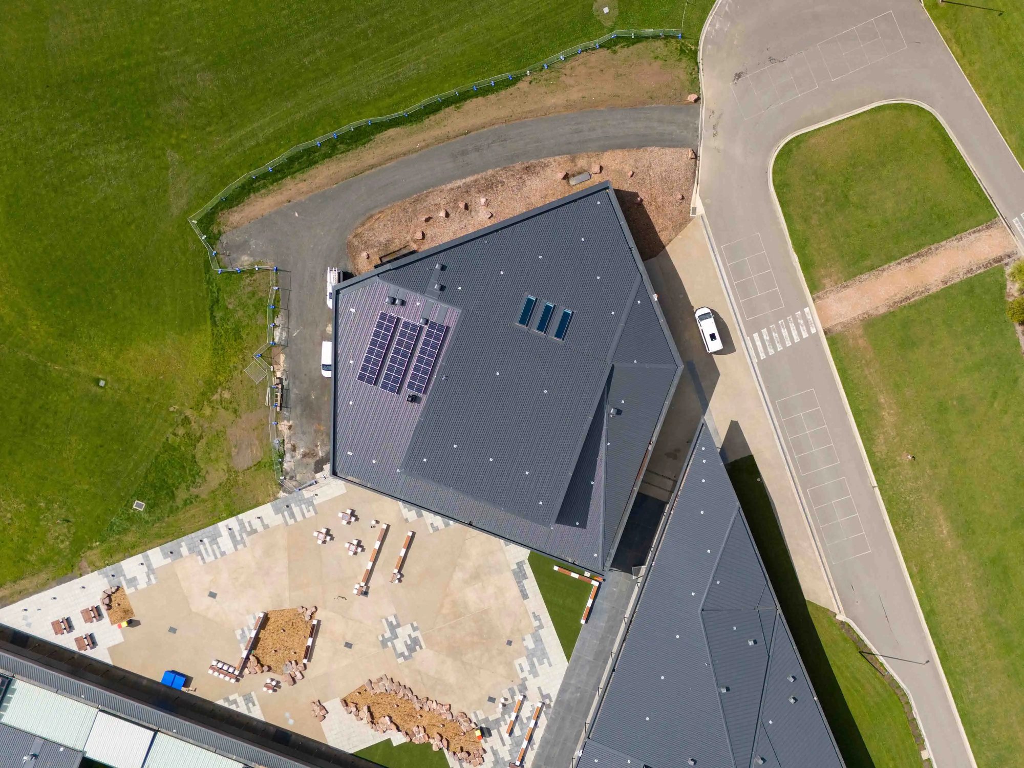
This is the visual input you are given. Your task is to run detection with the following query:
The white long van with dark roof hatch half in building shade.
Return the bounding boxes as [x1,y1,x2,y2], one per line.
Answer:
[695,305,724,354]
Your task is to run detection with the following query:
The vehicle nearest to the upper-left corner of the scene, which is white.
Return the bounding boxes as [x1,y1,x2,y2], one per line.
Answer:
[326,263,343,308]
